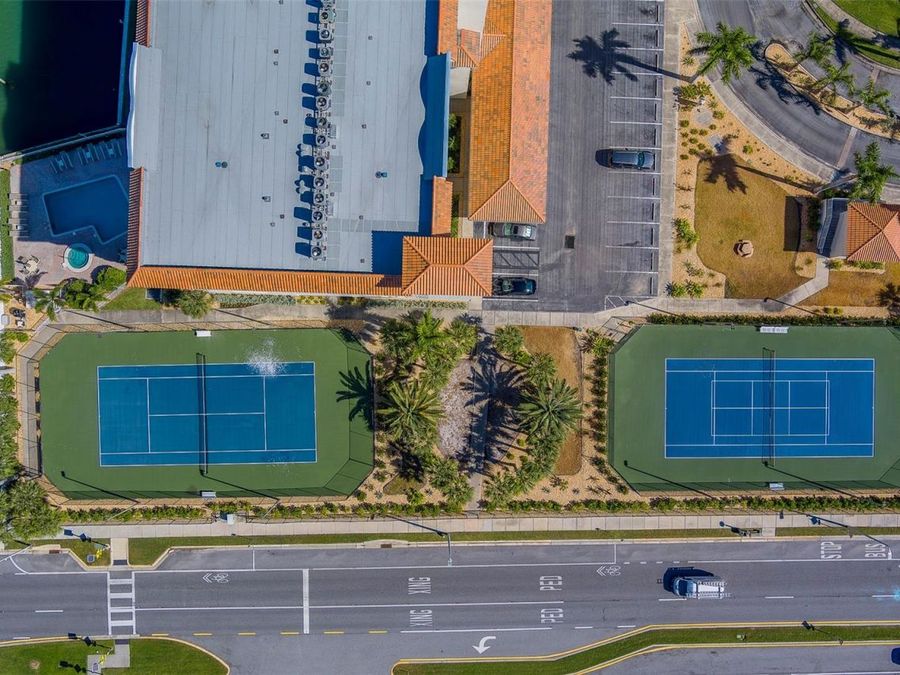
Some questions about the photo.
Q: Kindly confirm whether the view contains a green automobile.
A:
No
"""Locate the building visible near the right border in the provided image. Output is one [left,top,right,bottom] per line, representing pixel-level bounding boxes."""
[830,201,900,264]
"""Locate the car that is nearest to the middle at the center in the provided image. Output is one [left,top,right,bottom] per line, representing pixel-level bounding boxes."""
[492,275,536,295]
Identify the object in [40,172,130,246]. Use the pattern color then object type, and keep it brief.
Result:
blue swimming pool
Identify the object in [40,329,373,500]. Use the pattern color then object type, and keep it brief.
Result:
green tennis court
